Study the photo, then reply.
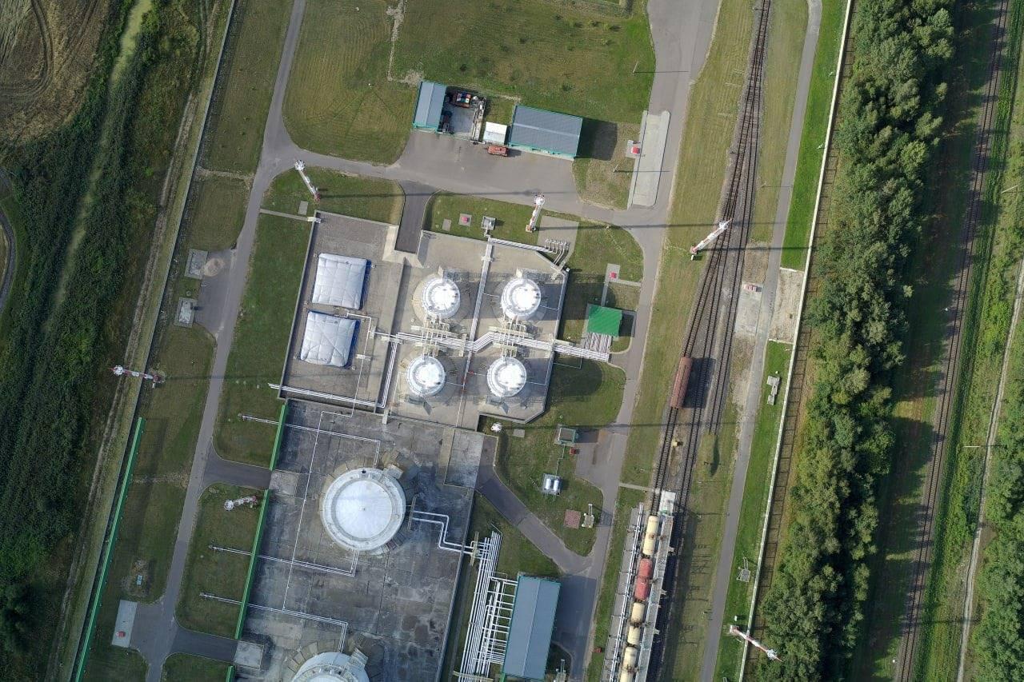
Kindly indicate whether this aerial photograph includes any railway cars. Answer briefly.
Yes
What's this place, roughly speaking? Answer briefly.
industrial area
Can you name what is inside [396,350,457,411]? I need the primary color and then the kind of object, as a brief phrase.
white storage tank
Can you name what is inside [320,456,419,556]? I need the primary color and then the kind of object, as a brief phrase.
white storage tank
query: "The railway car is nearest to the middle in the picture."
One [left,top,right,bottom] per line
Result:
[670,358,696,411]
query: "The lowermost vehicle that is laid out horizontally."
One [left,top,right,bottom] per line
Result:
[487,142,509,156]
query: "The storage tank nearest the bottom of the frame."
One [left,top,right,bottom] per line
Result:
[280,639,381,682]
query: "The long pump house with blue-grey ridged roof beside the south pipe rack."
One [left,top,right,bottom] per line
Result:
[503,576,561,680]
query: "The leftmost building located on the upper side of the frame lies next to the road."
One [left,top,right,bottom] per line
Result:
[414,81,446,134]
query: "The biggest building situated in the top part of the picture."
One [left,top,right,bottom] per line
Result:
[509,105,582,160]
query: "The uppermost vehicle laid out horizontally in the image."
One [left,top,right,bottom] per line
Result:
[445,92,472,108]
